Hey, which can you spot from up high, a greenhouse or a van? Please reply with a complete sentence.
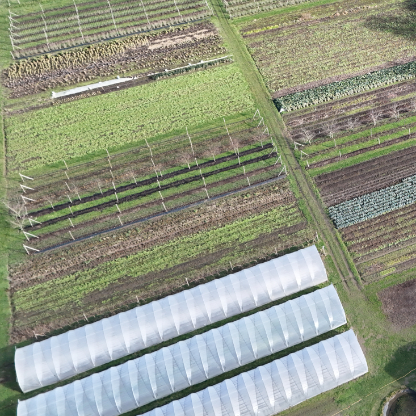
It is a greenhouse that can be seen here.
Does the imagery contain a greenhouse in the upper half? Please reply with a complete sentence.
No, no greenhouse appears in the upper half.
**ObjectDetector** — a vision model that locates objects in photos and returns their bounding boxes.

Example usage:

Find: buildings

[12,283,347,416]
[10,244,327,392]
[120,326,369,416]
